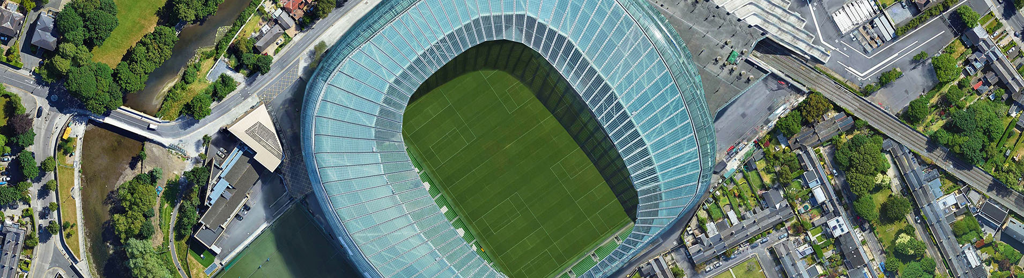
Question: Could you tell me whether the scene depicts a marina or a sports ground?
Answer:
sports ground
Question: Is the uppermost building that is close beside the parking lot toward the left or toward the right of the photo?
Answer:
left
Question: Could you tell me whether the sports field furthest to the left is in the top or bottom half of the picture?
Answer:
bottom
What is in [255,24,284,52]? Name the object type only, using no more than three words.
house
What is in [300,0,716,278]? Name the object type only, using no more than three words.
stadium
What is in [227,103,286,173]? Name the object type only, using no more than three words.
building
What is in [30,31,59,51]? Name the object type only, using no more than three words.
house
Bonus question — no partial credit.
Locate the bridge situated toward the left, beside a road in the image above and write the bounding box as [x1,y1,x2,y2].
[87,106,168,148]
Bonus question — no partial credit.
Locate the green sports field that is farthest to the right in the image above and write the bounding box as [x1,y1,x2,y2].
[401,39,639,278]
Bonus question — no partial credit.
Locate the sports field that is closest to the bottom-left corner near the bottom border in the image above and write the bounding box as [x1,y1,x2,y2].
[219,207,359,278]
